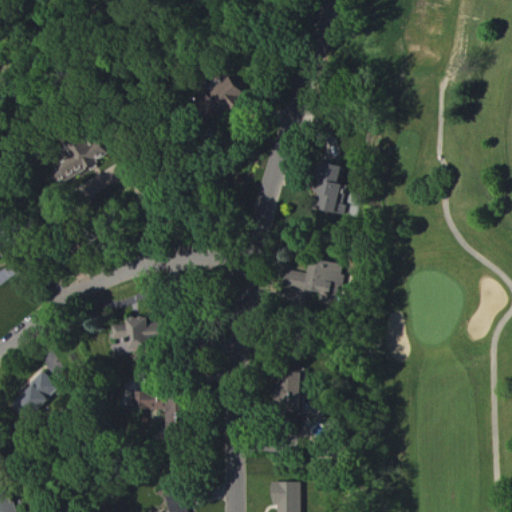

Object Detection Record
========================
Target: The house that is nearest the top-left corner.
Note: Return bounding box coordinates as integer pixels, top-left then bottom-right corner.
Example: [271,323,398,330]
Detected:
[52,140,106,182]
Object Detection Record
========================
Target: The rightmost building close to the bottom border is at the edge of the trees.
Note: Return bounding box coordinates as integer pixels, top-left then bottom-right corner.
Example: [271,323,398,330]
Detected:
[270,482,300,512]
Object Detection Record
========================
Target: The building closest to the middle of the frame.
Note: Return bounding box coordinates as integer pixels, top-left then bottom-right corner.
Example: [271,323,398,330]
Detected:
[282,259,346,298]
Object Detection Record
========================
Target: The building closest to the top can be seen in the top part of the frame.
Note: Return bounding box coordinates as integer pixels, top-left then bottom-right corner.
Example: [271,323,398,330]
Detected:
[206,76,242,110]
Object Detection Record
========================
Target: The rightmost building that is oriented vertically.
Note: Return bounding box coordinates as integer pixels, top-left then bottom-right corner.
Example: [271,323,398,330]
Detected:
[324,164,346,213]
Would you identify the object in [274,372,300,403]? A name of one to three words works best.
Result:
house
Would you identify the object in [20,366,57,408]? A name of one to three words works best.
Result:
house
